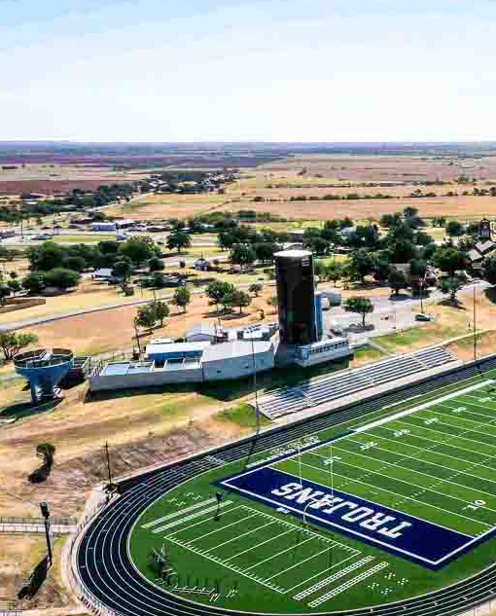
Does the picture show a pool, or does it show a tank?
tank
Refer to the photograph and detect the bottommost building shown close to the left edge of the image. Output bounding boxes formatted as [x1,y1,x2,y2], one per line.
[0,294,45,313]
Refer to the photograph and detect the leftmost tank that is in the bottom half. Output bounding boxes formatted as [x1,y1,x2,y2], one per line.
[13,348,75,409]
